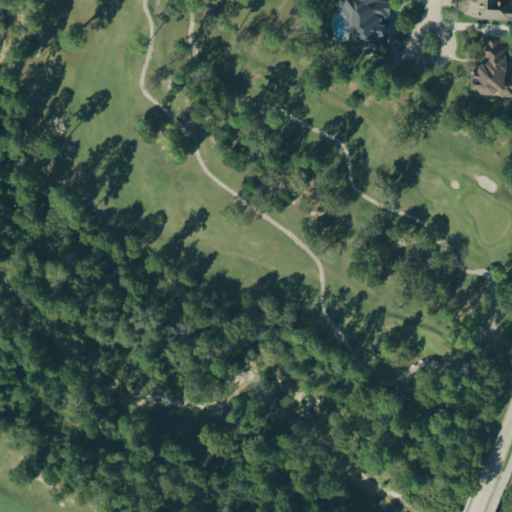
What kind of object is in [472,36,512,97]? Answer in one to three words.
house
